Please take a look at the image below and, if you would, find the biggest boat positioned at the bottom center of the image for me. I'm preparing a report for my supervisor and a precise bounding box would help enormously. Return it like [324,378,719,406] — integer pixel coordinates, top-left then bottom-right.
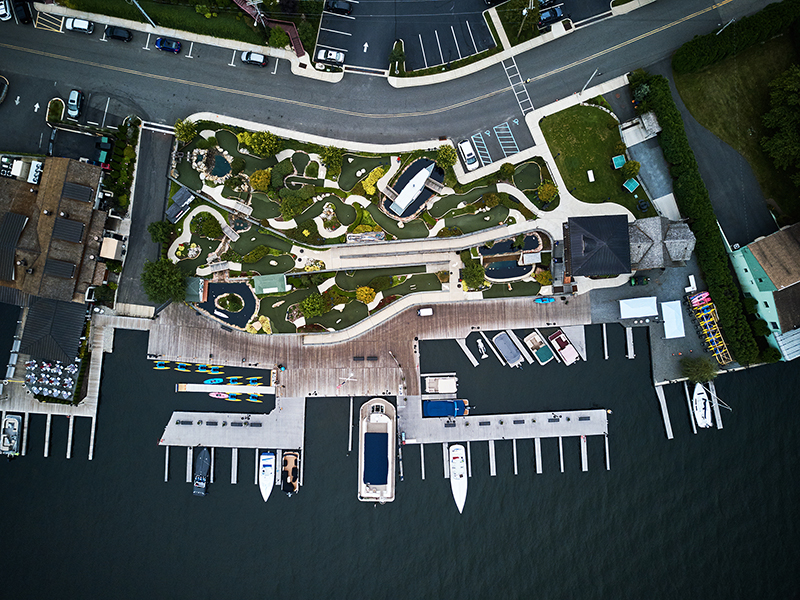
[359,398,396,508]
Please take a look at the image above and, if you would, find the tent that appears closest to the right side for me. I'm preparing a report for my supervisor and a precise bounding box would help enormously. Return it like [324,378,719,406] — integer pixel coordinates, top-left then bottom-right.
[659,300,686,339]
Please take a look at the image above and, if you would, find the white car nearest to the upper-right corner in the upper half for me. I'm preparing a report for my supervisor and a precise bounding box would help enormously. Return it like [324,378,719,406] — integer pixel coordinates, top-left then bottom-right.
[457,138,478,172]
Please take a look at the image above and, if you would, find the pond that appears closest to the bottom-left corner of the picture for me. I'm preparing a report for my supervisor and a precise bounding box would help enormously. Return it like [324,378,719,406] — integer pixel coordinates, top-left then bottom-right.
[194,280,258,330]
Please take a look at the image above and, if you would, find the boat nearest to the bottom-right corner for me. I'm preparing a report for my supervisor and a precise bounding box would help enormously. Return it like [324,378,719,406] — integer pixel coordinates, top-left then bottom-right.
[691,381,734,433]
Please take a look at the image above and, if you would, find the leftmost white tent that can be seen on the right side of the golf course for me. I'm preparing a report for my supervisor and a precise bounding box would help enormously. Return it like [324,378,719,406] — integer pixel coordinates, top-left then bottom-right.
[618,296,659,320]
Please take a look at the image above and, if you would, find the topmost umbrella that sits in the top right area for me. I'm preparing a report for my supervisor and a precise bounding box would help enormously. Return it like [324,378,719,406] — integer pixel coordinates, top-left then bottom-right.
[612,154,627,169]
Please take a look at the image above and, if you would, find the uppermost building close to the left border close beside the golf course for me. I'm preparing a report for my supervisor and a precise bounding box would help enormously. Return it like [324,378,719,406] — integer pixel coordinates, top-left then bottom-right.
[0,157,109,309]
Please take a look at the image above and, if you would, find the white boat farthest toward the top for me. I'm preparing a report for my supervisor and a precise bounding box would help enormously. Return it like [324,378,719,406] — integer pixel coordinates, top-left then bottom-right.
[388,163,435,219]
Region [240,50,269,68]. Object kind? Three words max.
car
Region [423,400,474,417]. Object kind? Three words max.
boat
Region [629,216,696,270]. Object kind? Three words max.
building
